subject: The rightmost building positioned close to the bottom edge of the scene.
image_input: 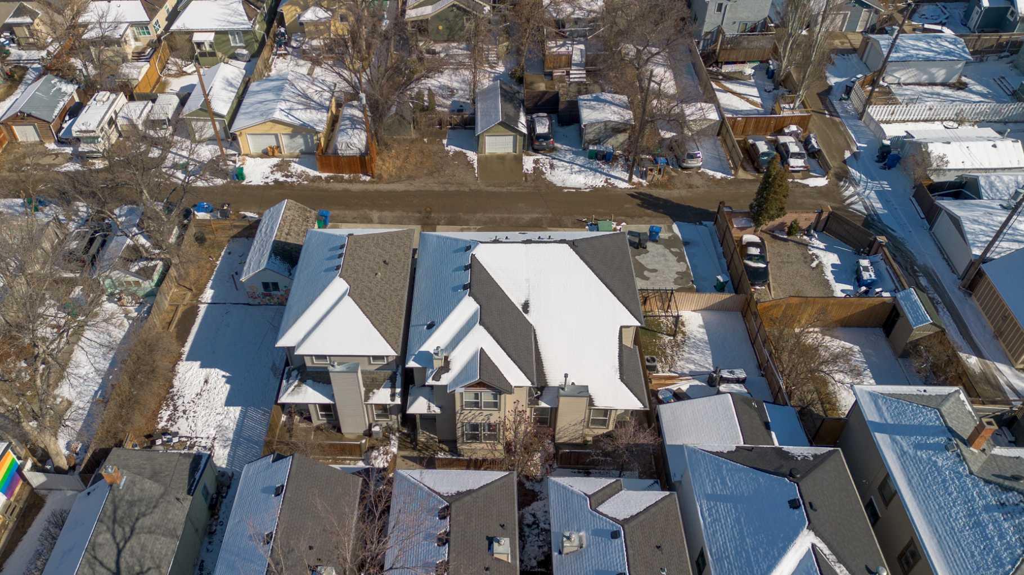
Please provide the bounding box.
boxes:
[831,385,1024,575]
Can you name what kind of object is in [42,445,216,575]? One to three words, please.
house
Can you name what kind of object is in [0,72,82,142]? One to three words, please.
building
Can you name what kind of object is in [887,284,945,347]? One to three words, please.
shed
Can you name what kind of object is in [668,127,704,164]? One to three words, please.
car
